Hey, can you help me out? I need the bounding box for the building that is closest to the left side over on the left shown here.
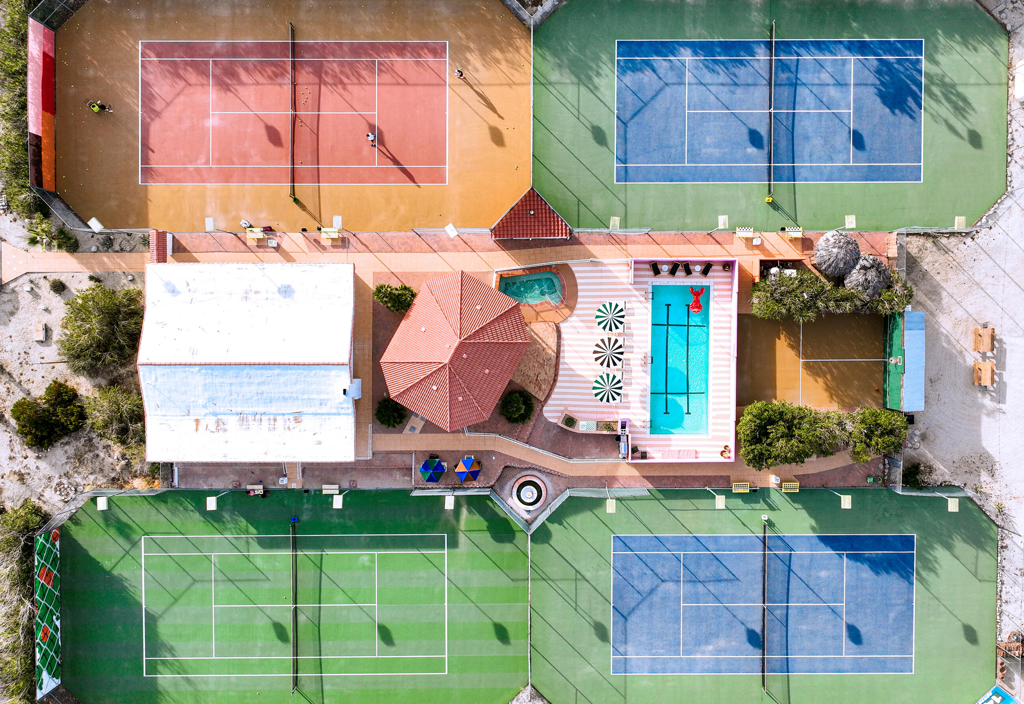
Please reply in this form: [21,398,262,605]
[133,262,363,462]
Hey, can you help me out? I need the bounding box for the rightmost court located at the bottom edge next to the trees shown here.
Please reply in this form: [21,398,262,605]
[530,488,998,704]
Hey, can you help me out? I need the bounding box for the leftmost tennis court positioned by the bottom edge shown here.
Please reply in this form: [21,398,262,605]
[61,488,529,704]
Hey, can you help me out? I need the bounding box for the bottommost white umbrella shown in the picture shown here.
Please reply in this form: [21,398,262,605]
[592,373,622,403]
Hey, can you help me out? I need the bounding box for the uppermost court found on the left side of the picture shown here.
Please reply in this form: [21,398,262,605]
[55,0,531,233]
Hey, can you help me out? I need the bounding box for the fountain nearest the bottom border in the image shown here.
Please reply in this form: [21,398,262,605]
[511,475,547,512]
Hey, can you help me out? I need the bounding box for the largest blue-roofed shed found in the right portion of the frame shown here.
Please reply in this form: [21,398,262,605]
[908,312,925,411]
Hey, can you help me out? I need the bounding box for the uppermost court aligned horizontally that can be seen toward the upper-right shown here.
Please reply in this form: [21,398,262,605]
[532,0,1008,233]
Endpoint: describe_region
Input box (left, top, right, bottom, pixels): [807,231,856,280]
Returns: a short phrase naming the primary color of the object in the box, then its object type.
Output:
gray umbrella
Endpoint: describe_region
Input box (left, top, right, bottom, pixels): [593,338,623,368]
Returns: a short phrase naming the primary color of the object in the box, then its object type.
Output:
white umbrella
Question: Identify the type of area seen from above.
sports ground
